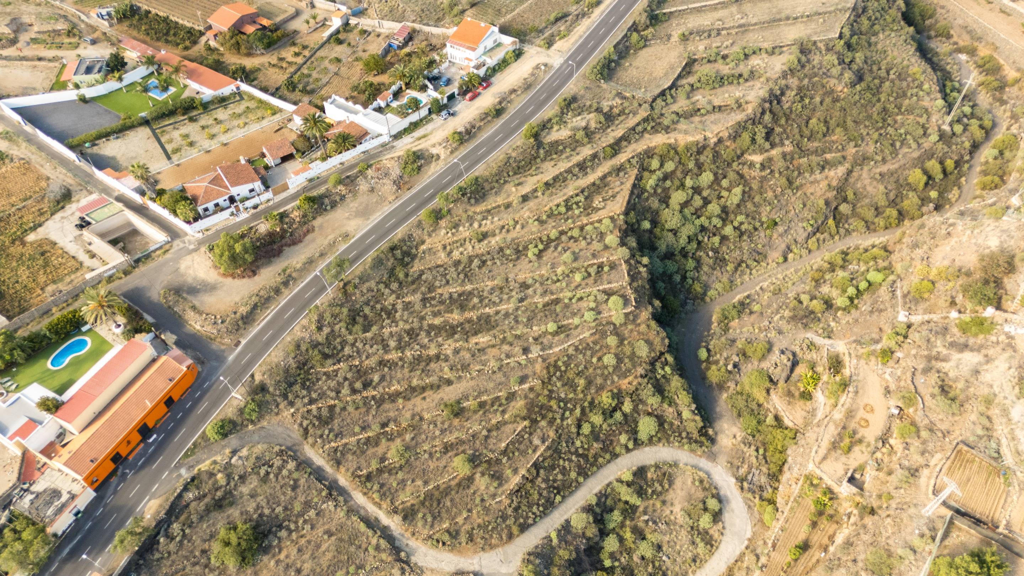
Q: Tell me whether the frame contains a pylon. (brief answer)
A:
Yes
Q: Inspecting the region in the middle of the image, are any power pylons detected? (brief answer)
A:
No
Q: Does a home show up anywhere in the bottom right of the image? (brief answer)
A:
No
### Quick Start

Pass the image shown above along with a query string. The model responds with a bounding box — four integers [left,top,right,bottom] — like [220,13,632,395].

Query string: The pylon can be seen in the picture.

[922,472,977,516]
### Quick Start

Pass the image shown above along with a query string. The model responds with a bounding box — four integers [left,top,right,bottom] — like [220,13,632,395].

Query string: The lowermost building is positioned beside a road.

[13,469,96,535]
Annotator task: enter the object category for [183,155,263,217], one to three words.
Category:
house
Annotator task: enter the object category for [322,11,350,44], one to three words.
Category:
shed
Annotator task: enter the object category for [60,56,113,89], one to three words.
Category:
building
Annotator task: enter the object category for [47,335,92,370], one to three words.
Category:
swimming pool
